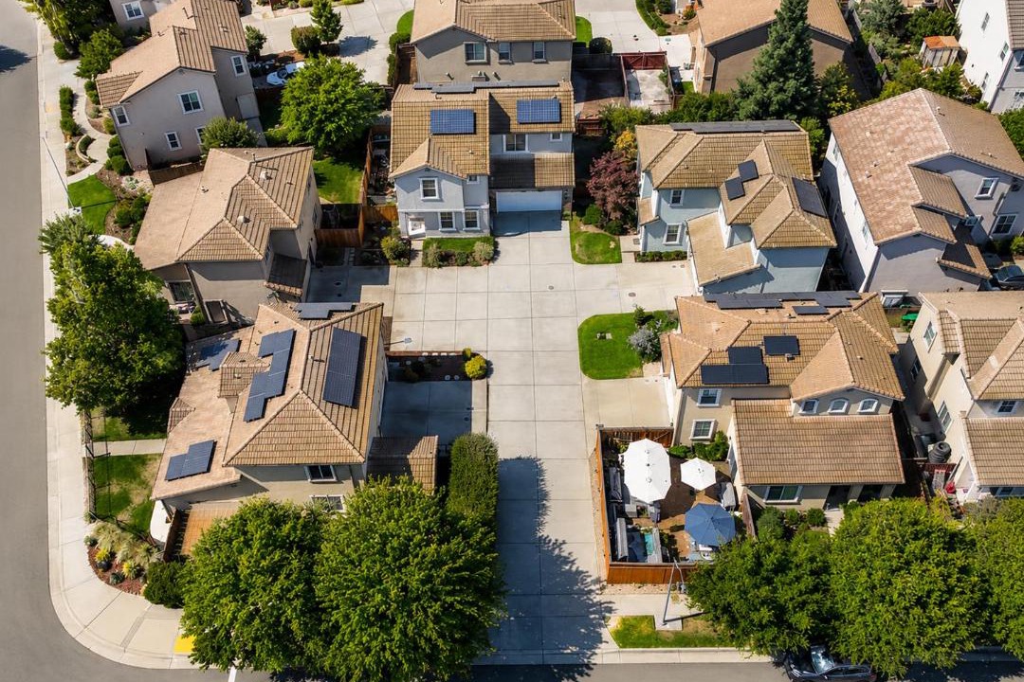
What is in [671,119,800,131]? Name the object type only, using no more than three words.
solar panel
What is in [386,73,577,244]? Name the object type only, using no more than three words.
house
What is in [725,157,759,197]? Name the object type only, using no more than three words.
solar panel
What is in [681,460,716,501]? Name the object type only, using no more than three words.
umbrella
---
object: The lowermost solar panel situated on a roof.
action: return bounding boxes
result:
[165,437,214,478]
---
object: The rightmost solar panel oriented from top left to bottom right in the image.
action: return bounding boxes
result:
[793,174,824,213]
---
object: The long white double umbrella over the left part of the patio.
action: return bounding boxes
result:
[624,439,671,504]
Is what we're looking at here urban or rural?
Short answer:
urban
